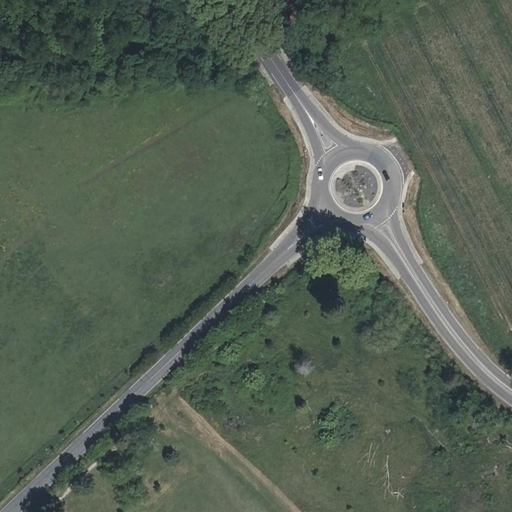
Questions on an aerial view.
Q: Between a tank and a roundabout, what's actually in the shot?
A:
roundabout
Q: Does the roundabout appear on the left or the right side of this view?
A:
right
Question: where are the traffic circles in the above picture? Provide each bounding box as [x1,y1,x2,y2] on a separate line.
[296,132,404,248]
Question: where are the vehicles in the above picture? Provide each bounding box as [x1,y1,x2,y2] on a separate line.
[362,212,373,220]
[382,169,390,182]
[317,166,324,180]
